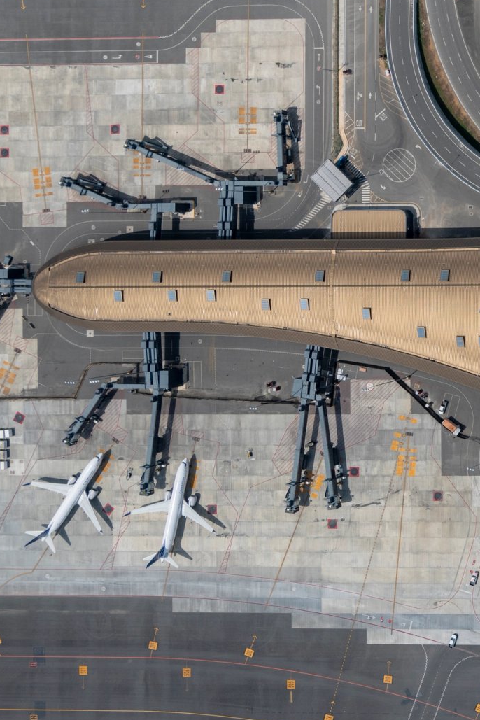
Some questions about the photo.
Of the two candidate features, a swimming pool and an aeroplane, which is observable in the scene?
aeroplane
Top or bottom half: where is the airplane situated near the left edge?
bottom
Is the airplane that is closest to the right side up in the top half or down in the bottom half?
bottom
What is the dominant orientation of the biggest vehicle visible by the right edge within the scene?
at an angle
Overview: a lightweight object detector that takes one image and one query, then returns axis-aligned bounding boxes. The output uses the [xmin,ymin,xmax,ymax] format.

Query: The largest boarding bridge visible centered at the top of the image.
[124,109,301,240]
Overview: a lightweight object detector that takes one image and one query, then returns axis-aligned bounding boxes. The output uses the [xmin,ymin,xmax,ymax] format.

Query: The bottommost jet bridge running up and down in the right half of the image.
[285,345,352,519]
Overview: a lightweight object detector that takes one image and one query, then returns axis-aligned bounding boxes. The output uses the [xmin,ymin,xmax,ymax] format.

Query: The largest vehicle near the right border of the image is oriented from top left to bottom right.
[440,416,465,436]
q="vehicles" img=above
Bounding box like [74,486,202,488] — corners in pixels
[424,402,432,409]
[265,382,273,387]
[413,388,421,397]
[384,68,390,78]
[243,450,251,458]
[469,571,479,585]
[343,68,352,74]
[419,392,428,399]
[270,385,280,392]
[440,399,449,415]
[448,634,459,648]
[440,416,465,436]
